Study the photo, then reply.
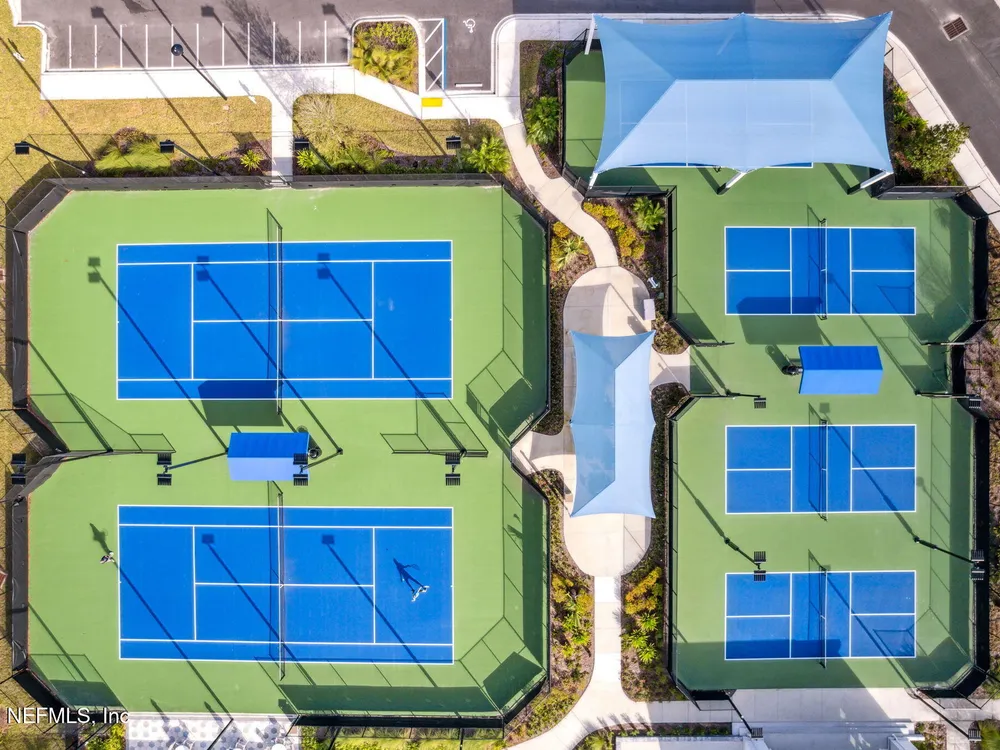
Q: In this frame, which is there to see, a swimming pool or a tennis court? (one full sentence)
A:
Of the two, only a tennis court appears.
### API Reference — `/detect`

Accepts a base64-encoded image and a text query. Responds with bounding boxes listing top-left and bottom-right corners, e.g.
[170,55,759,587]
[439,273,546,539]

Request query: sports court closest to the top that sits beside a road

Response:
[562,48,869,197]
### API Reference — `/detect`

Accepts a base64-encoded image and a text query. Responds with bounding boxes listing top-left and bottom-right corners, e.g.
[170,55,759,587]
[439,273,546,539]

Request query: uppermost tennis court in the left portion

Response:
[27,187,549,450]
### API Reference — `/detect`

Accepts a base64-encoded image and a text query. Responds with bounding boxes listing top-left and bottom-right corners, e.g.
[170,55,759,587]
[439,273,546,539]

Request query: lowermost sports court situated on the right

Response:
[676,541,974,689]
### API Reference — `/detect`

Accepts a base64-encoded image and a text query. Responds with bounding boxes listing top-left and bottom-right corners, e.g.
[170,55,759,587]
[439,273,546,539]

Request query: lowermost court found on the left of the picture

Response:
[26,450,548,714]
